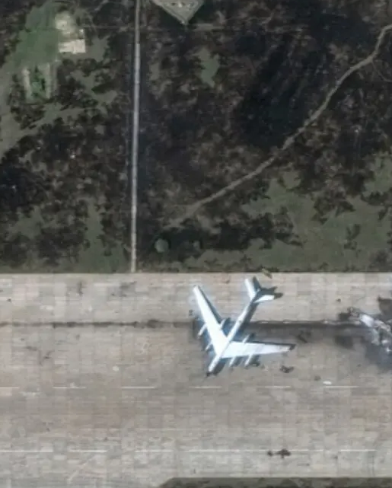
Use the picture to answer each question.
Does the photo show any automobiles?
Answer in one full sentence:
No, the picture doesn't show any automobile.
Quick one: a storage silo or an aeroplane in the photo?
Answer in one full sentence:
The image shows an aeroplane.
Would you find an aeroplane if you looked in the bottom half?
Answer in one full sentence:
Yes, an aeroplane shows up in the bottom half.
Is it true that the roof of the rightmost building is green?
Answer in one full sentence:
No, the roof of the rightmost building is actually gray.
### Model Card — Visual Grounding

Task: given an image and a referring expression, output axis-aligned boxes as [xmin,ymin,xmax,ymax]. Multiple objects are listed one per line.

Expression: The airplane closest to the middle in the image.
[194,280,295,380]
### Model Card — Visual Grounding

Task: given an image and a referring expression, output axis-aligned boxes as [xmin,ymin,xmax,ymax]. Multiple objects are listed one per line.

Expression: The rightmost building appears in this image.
[156,0,203,24]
